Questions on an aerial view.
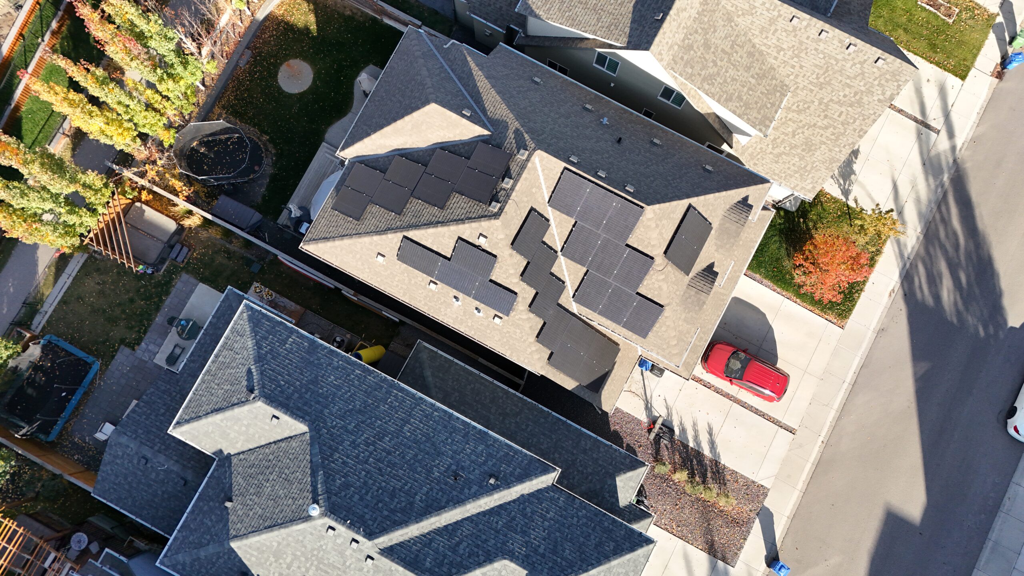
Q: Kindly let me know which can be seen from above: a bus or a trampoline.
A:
trampoline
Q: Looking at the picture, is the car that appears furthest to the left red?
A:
Yes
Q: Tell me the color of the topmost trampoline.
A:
black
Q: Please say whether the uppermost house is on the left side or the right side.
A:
right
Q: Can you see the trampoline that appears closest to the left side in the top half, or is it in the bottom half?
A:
bottom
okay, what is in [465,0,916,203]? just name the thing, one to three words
house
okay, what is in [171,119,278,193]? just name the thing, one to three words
trampoline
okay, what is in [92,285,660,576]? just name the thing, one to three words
house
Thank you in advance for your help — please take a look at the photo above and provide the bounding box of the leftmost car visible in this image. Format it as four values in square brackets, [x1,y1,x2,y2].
[700,342,792,403]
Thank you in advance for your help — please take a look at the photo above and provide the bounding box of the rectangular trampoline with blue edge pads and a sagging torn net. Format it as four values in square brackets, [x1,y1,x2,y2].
[0,329,98,444]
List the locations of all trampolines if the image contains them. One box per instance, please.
[171,119,278,193]
[0,329,98,444]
